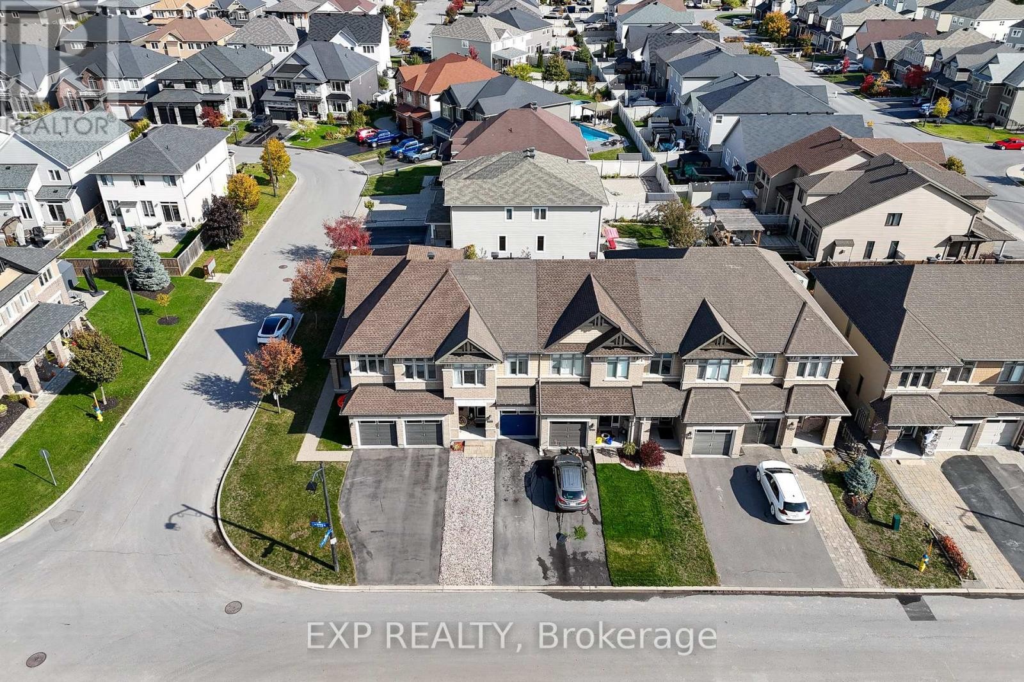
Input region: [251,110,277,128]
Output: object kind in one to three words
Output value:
vehicle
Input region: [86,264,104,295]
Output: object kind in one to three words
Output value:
umbrella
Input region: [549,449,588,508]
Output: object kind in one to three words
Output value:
car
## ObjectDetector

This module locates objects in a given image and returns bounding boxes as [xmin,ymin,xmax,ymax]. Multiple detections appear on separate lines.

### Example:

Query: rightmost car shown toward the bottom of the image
[752,458,807,518]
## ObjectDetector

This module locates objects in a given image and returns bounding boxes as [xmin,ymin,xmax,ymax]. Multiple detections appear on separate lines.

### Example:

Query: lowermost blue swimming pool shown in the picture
[577,121,615,142]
